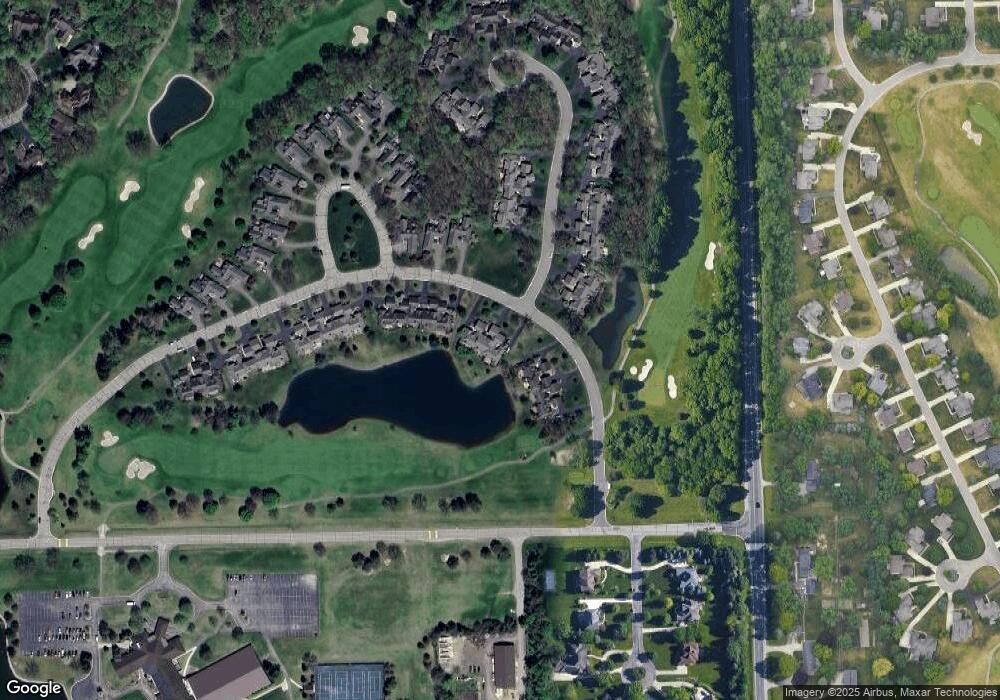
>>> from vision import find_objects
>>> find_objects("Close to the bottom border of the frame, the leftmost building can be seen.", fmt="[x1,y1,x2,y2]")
[112,615,188,700]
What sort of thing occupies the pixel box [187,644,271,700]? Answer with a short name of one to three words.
building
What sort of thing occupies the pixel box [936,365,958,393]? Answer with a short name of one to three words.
house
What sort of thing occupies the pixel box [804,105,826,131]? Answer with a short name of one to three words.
house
